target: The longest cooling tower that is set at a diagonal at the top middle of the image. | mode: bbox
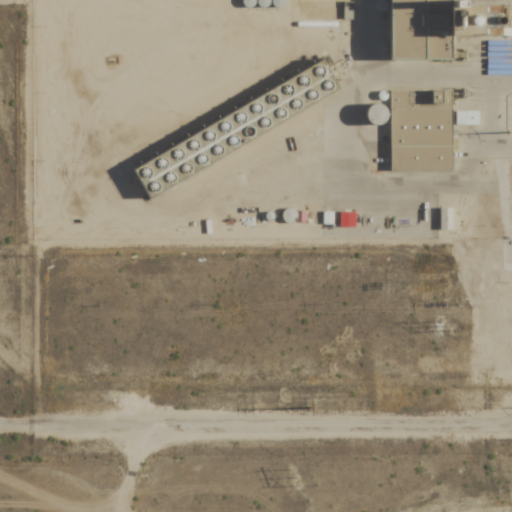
[132,57,342,200]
